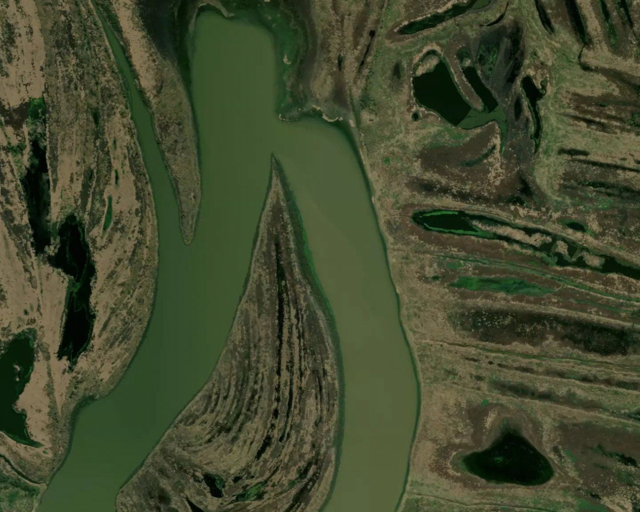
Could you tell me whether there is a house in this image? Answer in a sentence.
No, I can't see a single house in this photo.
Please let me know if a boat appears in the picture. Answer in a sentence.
No, there's no boat here.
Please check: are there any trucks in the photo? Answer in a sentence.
No, there is no truck in the image.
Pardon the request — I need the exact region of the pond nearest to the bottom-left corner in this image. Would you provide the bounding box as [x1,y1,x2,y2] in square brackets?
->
[0,327,43,448]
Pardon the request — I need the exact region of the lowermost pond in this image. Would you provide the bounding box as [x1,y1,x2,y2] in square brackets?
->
[462,430,552,485]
